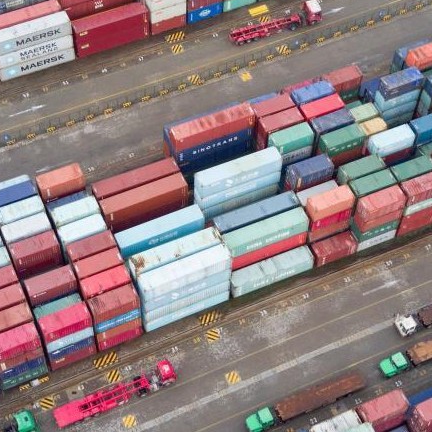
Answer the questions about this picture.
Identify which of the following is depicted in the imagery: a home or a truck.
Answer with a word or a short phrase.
truck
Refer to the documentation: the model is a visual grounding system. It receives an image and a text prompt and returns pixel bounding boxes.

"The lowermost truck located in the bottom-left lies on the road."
[4,410,38,432]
